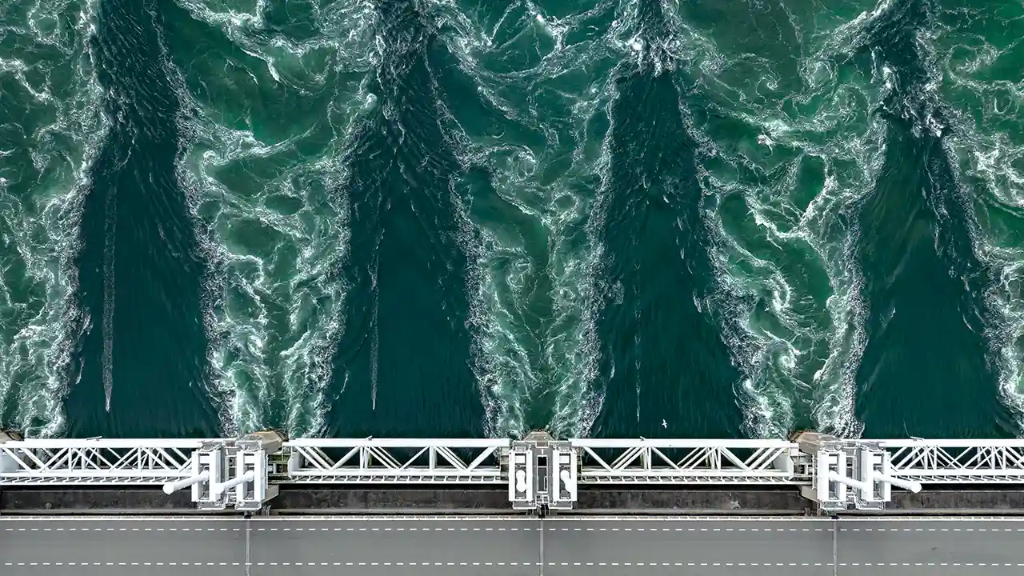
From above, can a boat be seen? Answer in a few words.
No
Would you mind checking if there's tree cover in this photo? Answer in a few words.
No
